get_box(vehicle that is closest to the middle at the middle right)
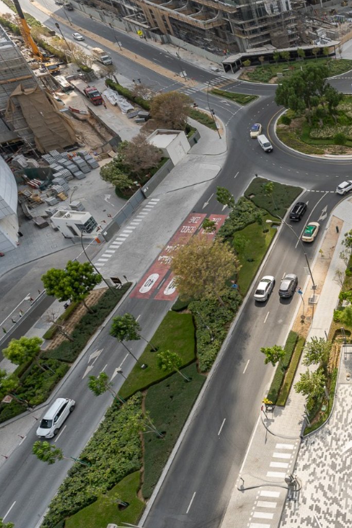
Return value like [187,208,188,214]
[253,274,275,301]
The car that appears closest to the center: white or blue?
white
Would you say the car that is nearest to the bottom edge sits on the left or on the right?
left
